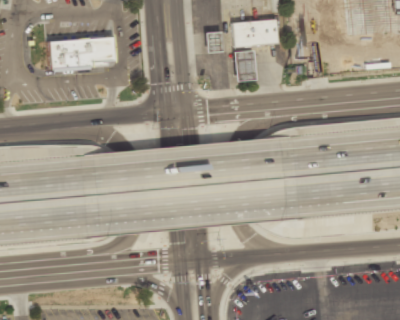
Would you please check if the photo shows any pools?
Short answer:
No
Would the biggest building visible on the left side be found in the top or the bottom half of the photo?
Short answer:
top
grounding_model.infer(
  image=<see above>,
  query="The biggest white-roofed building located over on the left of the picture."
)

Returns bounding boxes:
[50,36,118,72]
